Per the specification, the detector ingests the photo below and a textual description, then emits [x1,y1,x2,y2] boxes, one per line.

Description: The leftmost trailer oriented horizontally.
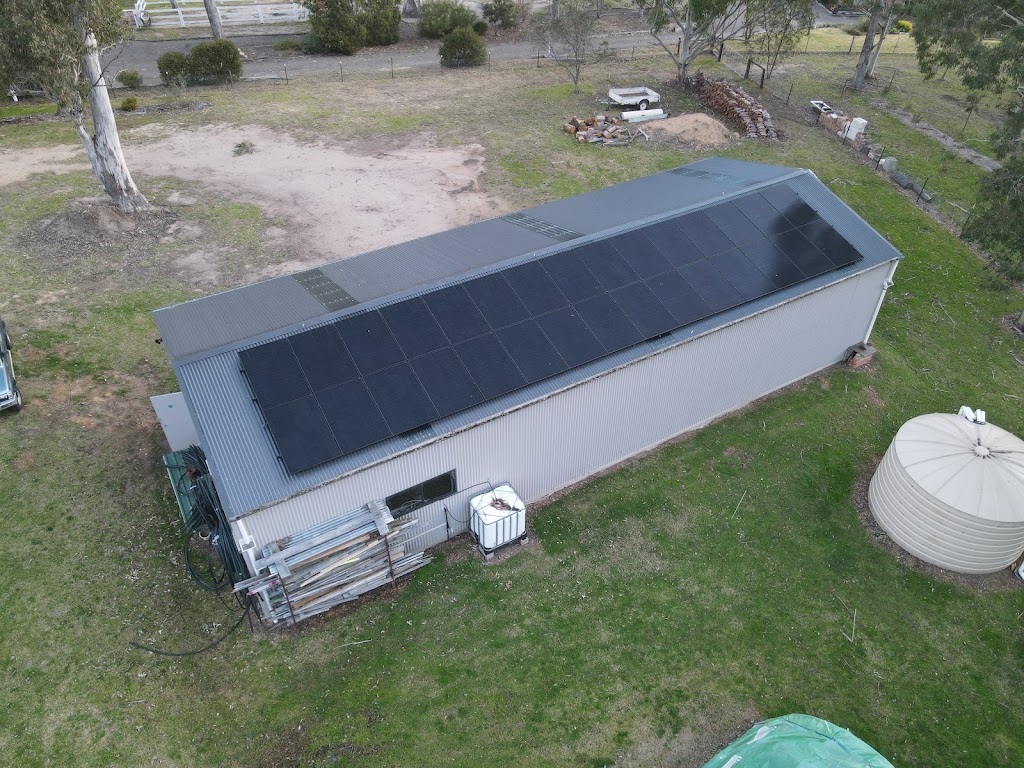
[592,86,658,111]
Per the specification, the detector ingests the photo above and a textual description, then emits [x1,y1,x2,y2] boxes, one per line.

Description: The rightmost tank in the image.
[871,406,1024,576]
